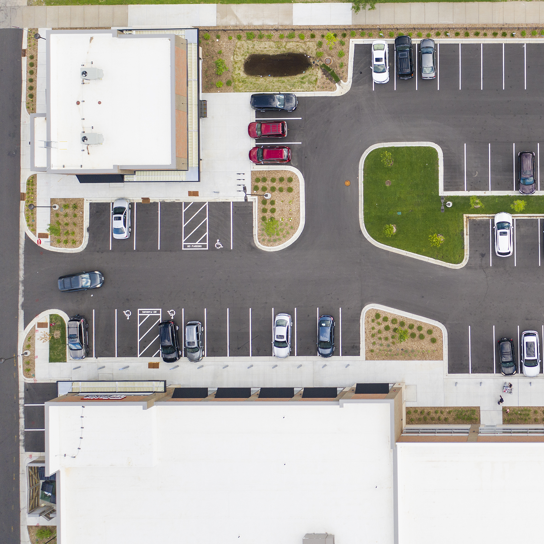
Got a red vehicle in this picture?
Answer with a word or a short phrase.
Yes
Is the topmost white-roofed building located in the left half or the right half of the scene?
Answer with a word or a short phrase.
left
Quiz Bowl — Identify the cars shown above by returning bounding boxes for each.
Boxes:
[521,330,541,376]
[159,320,182,362]
[517,150,537,195]
[57,271,106,294]
[111,198,133,239]
[370,39,390,84]
[250,91,298,112]
[316,315,336,357]
[248,119,289,139]
[184,321,206,361]
[271,313,293,358]
[66,320,89,359]
[418,39,437,80]
[494,212,514,257]
[394,35,415,80]
[249,144,292,165]
[497,336,517,375]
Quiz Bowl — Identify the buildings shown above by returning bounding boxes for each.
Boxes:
[30,28,201,183]
[48,380,407,544]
